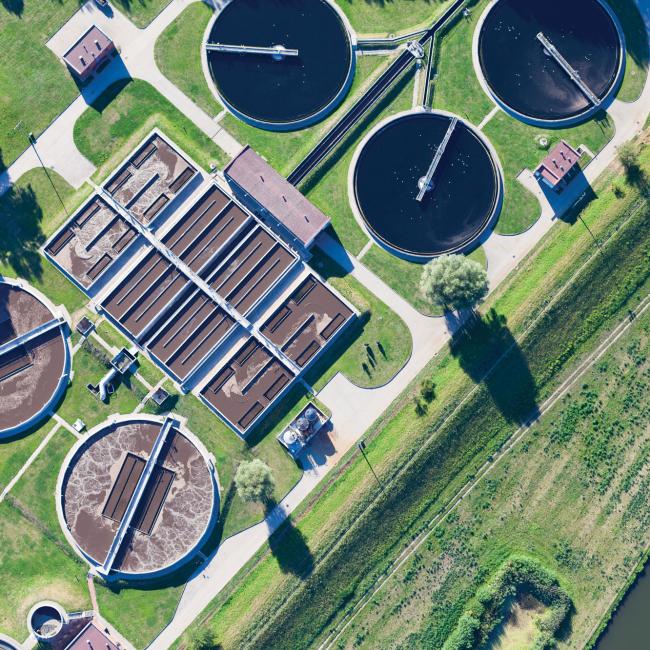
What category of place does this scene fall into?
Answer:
industrial area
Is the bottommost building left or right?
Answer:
left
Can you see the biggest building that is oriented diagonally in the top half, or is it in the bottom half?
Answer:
top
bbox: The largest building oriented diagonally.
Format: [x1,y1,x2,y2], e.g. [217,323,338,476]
[223,145,332,251]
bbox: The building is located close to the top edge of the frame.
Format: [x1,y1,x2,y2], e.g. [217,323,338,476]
[63,23,116,80]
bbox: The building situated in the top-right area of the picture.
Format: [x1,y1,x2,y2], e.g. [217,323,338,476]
[531,141,582,193]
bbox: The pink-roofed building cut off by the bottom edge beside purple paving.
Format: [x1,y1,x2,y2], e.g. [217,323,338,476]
[65,616,125,650]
